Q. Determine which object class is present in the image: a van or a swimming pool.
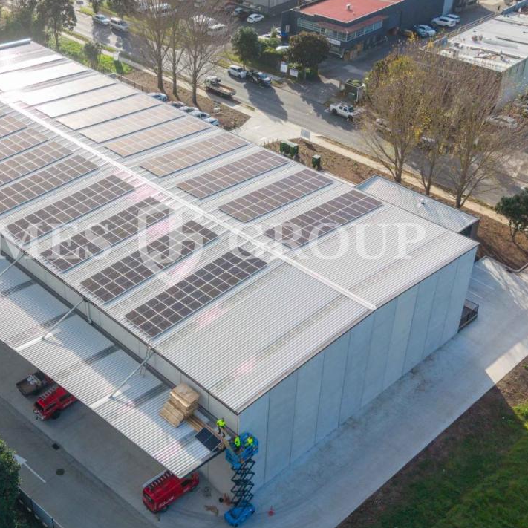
van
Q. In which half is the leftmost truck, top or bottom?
bottom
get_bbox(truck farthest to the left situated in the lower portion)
[14,366,58,398]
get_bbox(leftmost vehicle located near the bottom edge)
[143,471,204,516]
